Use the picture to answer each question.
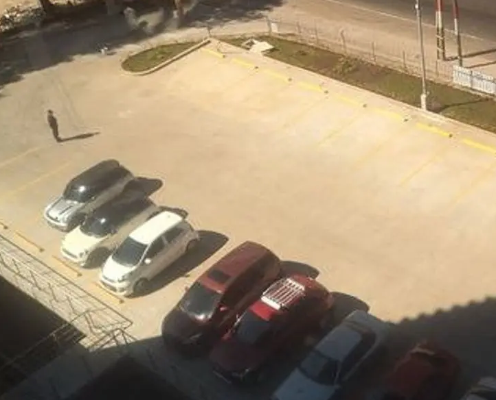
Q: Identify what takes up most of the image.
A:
paved ground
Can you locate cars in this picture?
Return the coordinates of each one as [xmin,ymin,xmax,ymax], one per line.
[63,189,167,266]
[47,159,145,229]
[164,245,292,356]
[363,345,461,400]
[211,271,333,383]
[271,310,394,400]
[101,212,206,295]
